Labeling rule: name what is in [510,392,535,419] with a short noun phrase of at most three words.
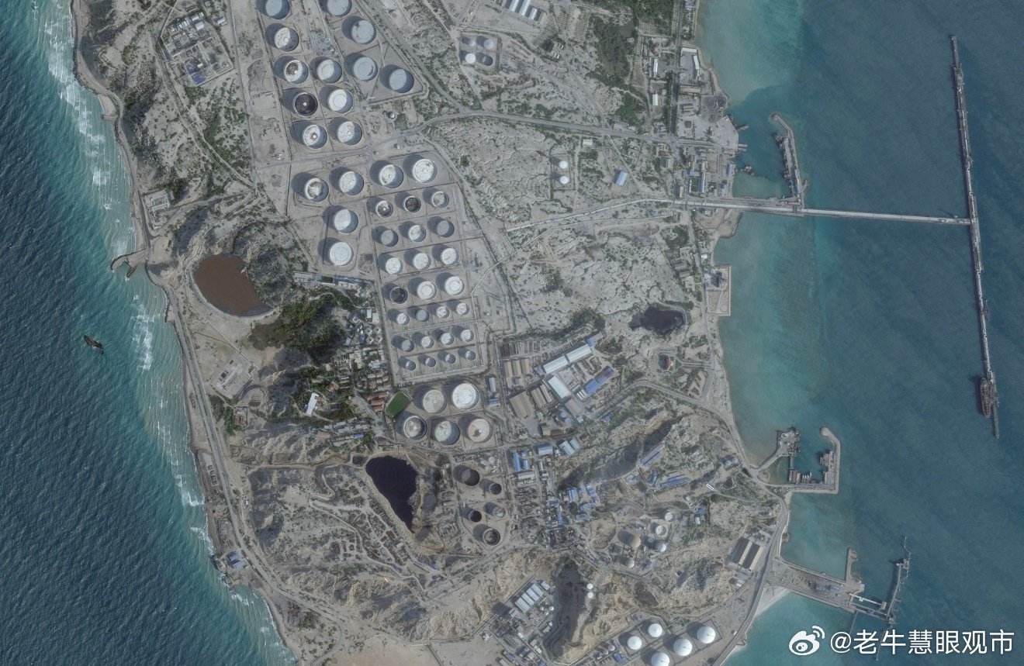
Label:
building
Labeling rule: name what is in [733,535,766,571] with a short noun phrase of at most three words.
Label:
building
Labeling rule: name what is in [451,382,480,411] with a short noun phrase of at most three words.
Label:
storage tank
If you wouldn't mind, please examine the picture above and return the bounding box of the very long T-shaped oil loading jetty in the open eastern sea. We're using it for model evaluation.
[804,36,1001,437]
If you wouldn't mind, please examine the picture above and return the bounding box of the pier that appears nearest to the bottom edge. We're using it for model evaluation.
[780,538,911,666]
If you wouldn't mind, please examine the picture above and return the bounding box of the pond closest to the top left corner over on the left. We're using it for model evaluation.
[194,255,271,316]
